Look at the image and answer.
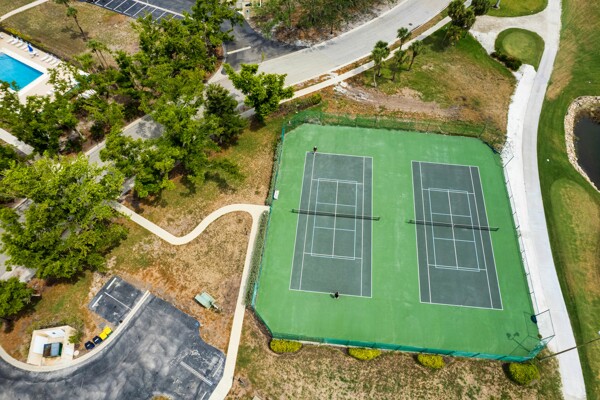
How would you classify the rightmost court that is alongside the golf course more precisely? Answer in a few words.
tennis court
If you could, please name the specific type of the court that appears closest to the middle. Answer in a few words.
tennis court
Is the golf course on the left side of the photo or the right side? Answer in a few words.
right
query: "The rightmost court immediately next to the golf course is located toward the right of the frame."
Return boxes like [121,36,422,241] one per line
[409,160,503,310]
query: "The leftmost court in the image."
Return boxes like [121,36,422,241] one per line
[290,151,380,298]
